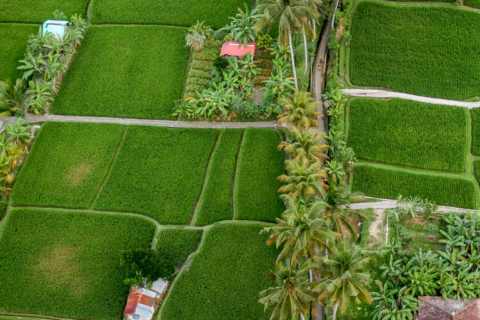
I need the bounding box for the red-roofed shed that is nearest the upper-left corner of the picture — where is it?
[221,41,256,65]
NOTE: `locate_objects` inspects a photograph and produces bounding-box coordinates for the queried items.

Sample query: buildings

[124,287,161,320]
[419,295,480,320]
[43,20,68,47]
[221,41,256,65]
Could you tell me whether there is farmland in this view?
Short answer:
Yes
